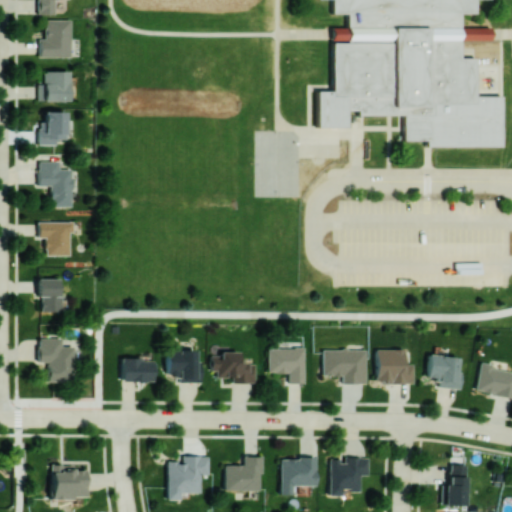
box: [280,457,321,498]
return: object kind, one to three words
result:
house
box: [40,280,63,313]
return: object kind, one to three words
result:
house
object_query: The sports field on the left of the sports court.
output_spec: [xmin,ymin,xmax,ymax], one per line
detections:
[106,40,253,305]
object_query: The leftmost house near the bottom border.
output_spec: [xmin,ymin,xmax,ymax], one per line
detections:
[51,465,93,500]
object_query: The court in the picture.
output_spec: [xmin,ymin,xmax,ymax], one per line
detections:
[254,131,298,198]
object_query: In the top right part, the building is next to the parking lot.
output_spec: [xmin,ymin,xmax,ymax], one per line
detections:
[315,0,506,148]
